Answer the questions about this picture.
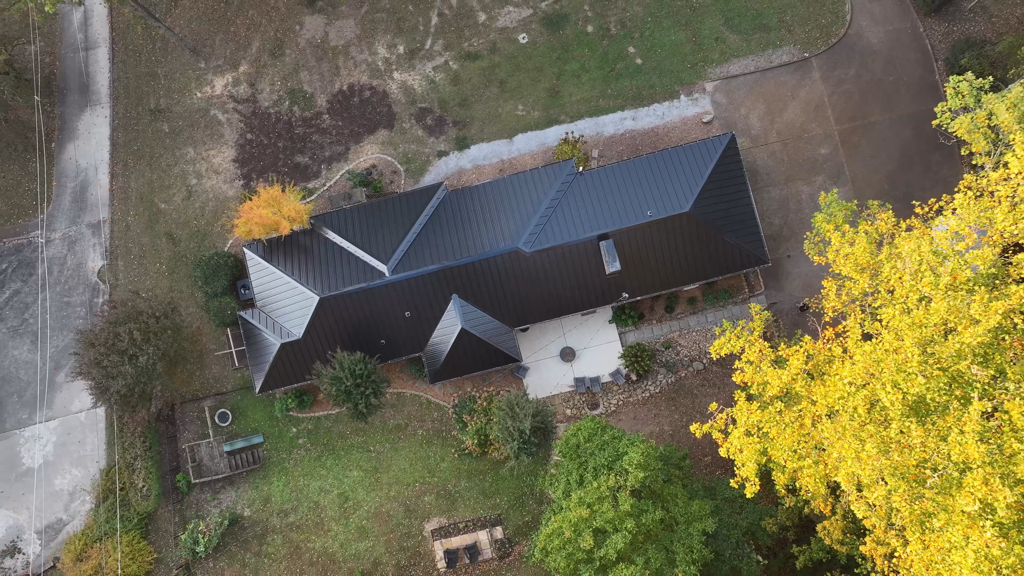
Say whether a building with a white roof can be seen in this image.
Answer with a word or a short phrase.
No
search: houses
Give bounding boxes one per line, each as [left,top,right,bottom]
[235,130,770,396]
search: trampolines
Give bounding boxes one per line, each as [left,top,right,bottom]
[215,409,232,425]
